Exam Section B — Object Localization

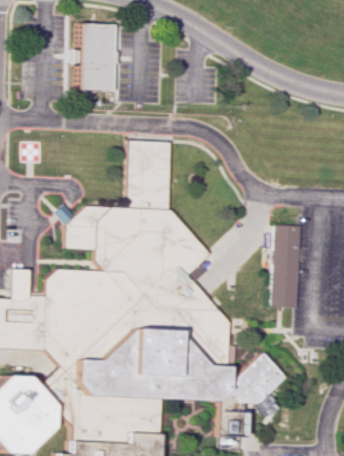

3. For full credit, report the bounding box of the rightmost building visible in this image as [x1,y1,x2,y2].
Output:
[270,226,301,308]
